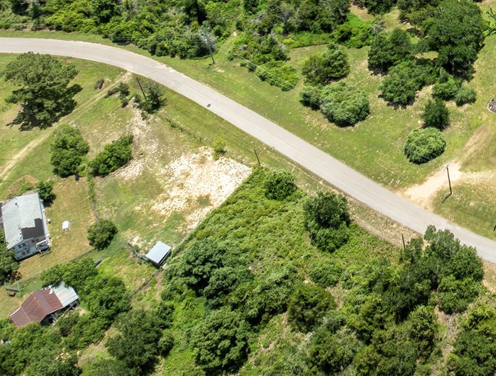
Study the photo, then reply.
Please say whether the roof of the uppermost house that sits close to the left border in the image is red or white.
white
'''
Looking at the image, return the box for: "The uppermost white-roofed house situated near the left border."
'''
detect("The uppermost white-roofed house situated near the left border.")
[0,192,53,256]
